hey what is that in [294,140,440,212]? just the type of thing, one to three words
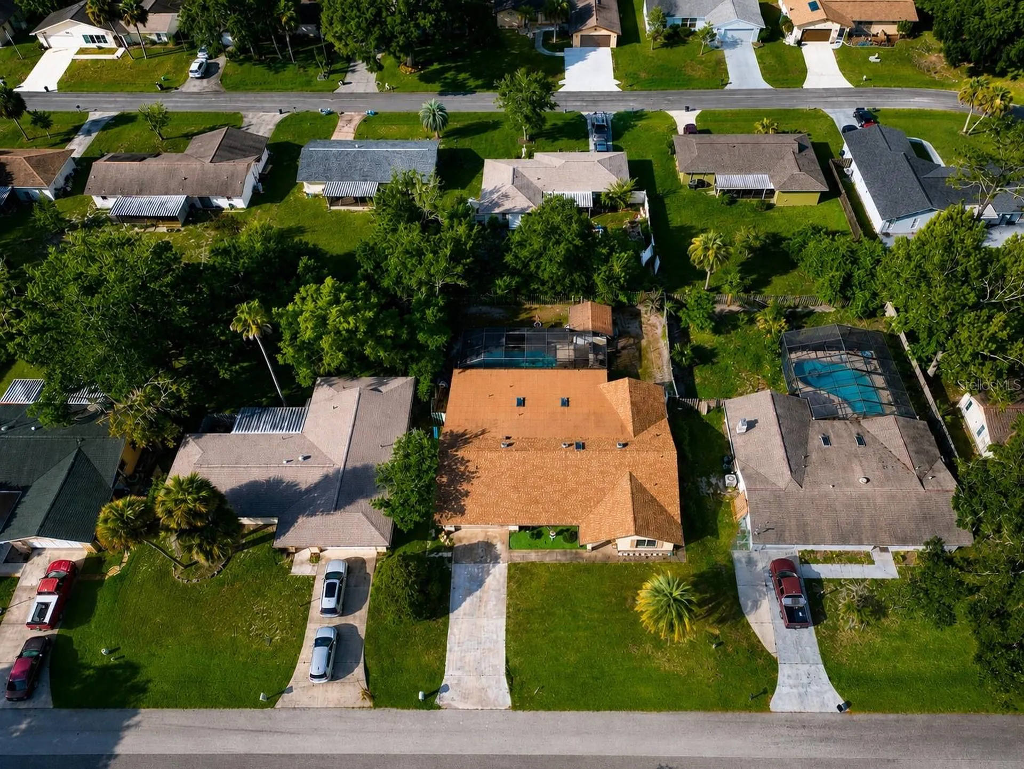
house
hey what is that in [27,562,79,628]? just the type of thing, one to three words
truck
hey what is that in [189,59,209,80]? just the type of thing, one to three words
car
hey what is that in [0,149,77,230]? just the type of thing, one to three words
house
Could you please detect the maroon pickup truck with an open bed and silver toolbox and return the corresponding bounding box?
[769,560,810,629]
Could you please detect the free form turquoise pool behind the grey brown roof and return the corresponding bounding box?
[793,357,886,418]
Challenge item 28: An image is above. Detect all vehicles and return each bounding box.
[769,560,810,629]
[840,125,856,135]
[593,138,609,152]
[851,106,877,126]
[682,121,698,134]
[308,628,339,684]
[189,59,209,80]
[592,105,609,140]
[319,561,349,618]
[27,562,79,628]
